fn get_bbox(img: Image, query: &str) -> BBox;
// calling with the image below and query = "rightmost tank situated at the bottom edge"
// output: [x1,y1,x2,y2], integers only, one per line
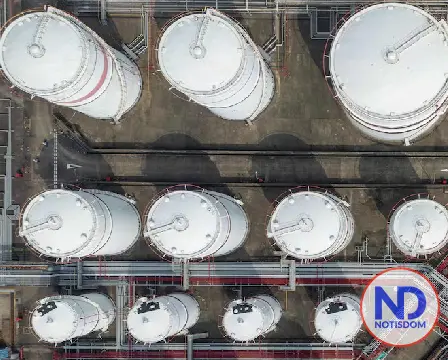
[312,290,368,348]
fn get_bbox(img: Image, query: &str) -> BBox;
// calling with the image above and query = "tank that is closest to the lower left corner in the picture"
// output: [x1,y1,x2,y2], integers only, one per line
[29,290,114,347]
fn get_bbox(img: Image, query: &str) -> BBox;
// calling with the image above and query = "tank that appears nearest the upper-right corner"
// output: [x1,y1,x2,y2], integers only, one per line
[326,0,448,144]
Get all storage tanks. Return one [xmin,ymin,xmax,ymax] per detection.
[155,8,277,123]
[326,0,448,144]
[124,290,199,347]
[29,290,114,347]
[267,187,354,263]
[0,6,147,122]
[218,291,282,347]
[143,187,247,262]
[312,290,368,348]
[16,185,140,262]
[385,195,448,260]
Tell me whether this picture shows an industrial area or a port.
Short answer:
industrial area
